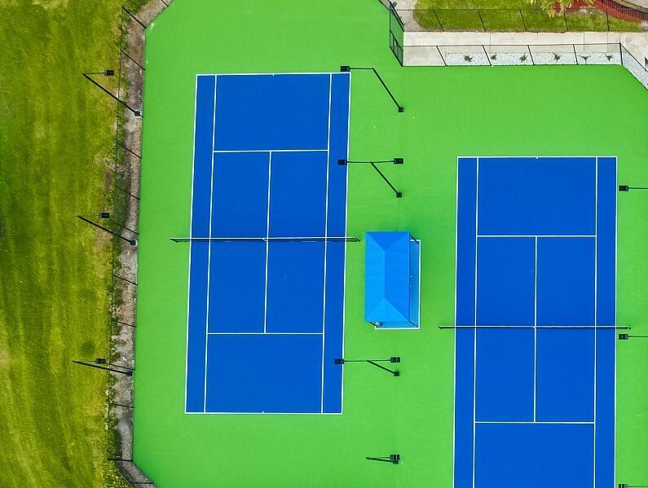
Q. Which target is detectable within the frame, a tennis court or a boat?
tennis court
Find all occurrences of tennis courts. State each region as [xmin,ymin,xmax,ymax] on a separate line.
[185,72,349,414]
[453,157,617,488]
